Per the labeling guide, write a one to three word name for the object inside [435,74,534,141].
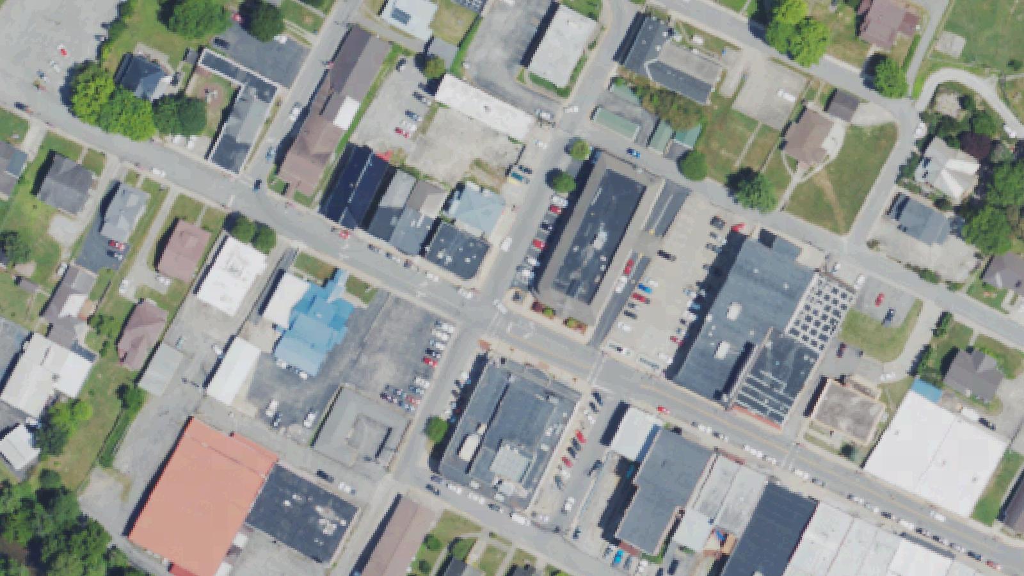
building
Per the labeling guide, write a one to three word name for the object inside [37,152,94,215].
house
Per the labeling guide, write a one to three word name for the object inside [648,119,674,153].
shed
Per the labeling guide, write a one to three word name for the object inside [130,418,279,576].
warehouse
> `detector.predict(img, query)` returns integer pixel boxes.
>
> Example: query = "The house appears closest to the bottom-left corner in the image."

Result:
[0,423,41,479]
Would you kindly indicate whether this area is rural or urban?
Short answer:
urban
